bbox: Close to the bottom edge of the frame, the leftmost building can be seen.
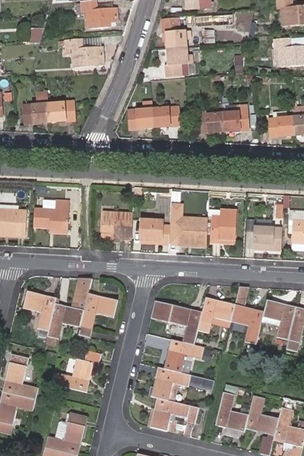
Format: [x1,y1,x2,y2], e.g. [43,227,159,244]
[0,362,39,434]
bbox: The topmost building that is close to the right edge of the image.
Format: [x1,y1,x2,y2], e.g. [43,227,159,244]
[276,0,304,26]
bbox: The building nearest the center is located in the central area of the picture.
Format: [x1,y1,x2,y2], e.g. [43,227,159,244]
[140,218,170,245]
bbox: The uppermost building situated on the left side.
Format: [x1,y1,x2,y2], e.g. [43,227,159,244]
[80,0,120,30]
